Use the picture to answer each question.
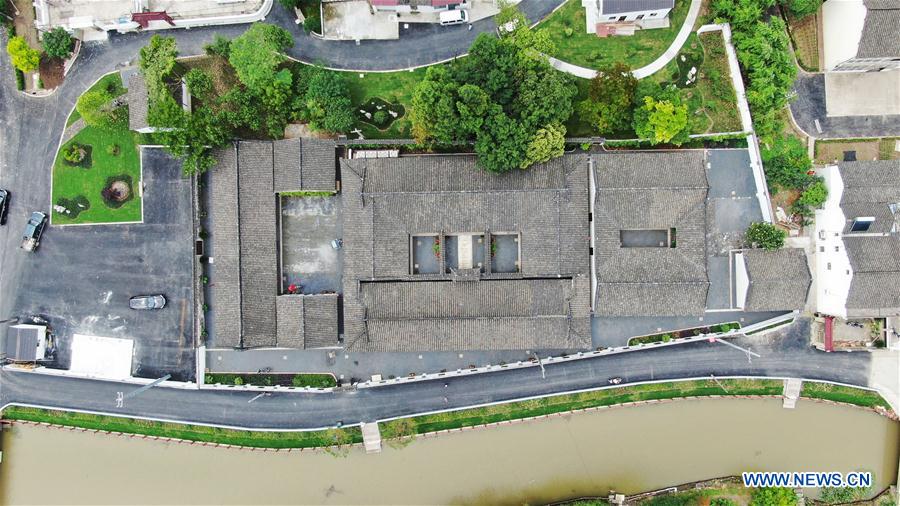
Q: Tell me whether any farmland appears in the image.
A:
No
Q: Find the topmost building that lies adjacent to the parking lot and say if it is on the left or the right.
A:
left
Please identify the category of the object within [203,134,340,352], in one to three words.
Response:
house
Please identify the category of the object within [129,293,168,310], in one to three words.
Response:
car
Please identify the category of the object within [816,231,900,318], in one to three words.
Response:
house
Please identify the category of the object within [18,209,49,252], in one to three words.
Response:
truck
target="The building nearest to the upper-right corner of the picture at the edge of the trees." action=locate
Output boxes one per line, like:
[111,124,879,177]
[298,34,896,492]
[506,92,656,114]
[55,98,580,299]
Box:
[824,0,900,71]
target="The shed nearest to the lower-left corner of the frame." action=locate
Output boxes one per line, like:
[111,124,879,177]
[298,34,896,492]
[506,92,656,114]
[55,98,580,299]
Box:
[9,325,48,362]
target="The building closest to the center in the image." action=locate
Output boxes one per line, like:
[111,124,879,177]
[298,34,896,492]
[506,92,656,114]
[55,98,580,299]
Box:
[340,156,590,352]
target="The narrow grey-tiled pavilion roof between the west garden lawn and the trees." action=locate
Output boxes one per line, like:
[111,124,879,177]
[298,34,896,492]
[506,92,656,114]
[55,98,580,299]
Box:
[127,70,168,136]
